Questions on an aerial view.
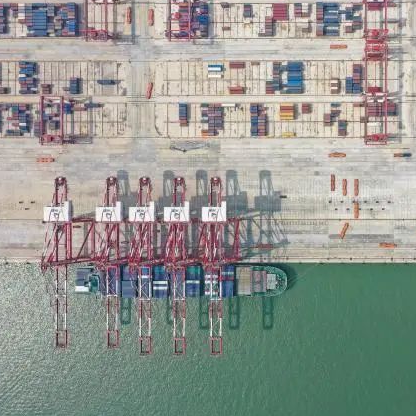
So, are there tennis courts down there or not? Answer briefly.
No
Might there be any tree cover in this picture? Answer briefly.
No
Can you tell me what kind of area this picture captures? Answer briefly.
port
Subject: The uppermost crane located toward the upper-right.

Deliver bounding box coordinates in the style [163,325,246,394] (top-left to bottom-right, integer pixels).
[362,0,388,42]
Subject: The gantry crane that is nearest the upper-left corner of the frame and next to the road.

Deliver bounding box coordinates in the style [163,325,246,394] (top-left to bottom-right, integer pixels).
[85,0,121,45]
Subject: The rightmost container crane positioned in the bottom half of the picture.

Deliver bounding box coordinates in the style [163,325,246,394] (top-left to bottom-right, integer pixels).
[201,174,243,355]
